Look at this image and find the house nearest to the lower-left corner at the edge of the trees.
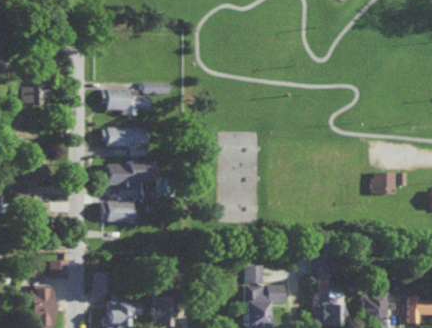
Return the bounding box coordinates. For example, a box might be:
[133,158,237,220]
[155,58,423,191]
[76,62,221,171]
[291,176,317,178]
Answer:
[32,286,58,328]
